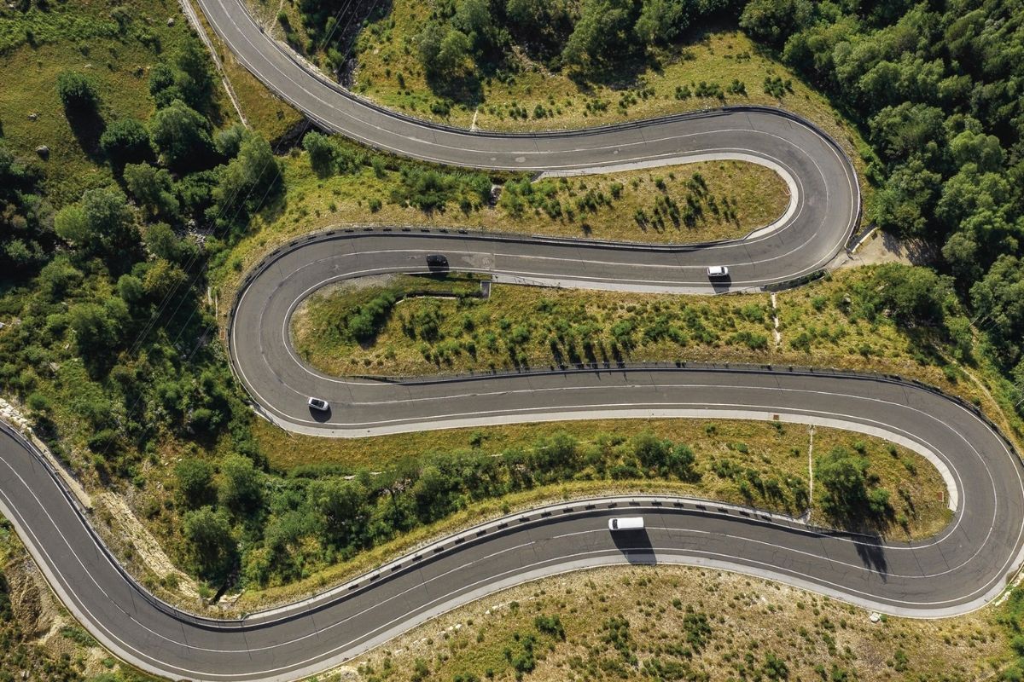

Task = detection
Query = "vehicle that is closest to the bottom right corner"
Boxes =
[609,519,646,535]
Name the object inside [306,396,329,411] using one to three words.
car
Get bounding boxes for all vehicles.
[708,265,730,276]
[306,396,329,411]
[609,519,646,535]
[426,254,447,265]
